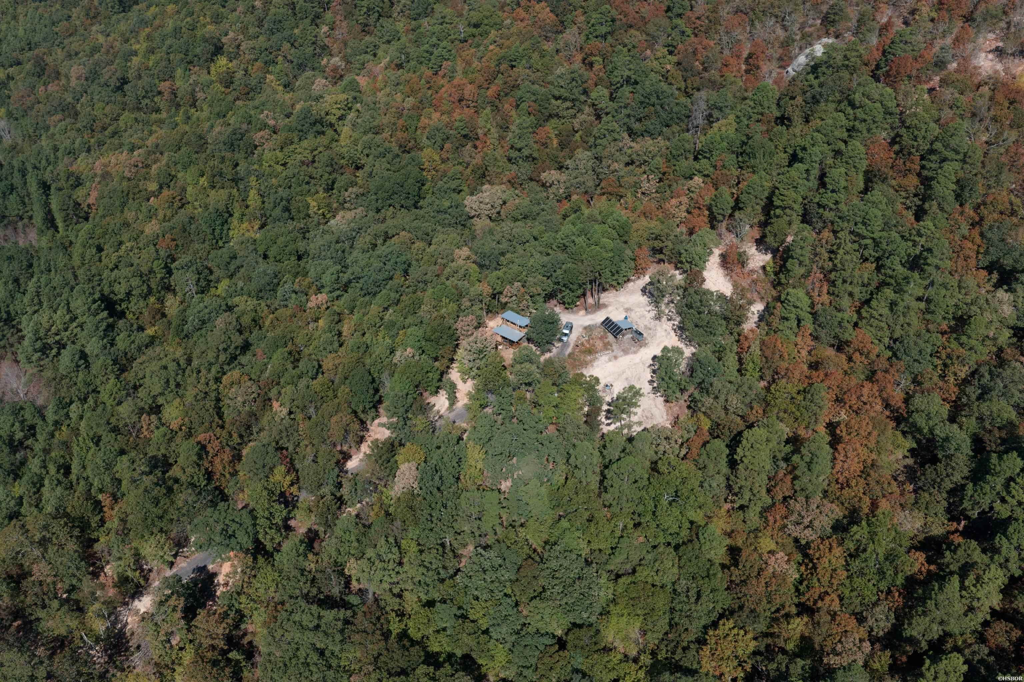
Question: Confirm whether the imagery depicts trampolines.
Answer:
No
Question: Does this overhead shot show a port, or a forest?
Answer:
forest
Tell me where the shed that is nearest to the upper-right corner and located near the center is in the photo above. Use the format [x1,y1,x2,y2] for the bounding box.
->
[601,317,635,342]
